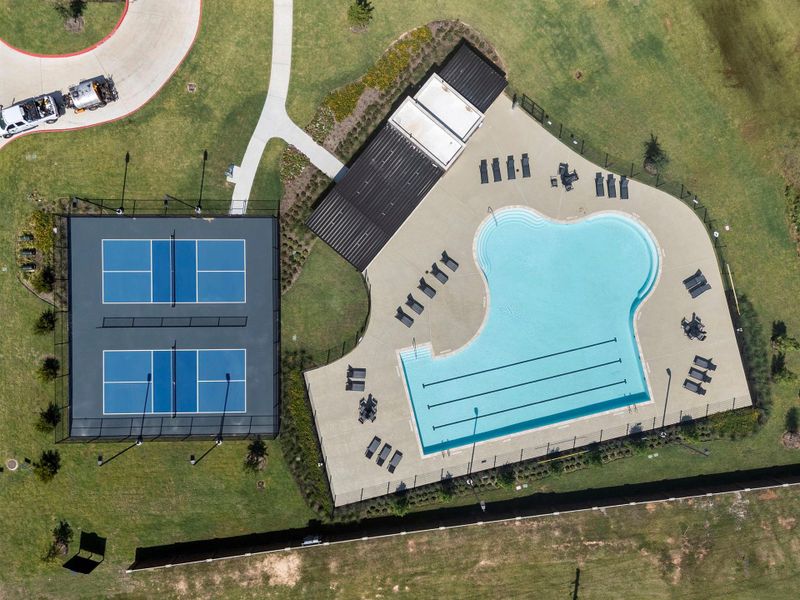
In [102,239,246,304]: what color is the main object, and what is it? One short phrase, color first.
blue sports court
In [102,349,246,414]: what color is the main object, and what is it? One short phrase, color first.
blue sports court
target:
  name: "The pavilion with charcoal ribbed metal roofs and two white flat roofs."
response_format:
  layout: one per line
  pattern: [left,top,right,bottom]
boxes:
[305,44,509,272]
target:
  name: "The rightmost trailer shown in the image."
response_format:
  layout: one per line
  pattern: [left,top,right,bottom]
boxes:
[60,77,120,116]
